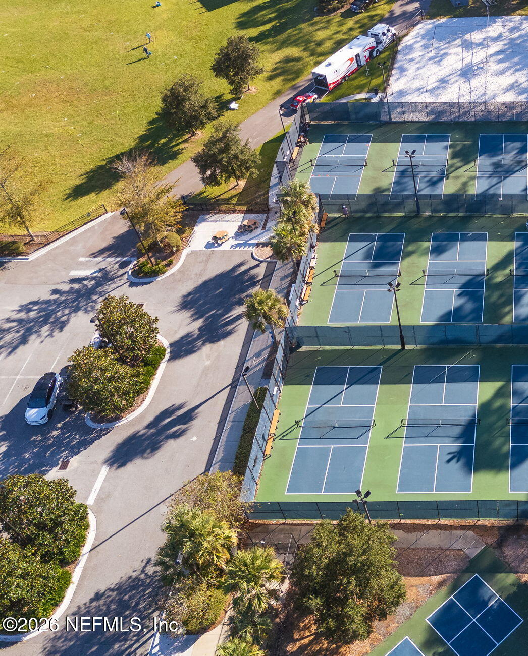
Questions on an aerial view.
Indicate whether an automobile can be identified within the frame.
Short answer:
Yes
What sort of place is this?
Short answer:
sports ground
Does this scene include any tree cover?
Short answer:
Yes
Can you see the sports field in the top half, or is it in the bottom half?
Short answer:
top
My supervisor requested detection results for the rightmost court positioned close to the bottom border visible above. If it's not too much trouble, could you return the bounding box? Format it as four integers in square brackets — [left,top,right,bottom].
[425,574,524,656]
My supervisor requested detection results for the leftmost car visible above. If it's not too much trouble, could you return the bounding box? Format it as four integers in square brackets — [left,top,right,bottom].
[24,376,66,422]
